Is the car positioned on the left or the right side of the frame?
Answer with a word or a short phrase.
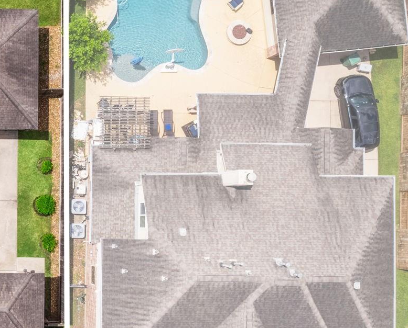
right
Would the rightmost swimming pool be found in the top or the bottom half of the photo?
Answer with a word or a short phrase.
top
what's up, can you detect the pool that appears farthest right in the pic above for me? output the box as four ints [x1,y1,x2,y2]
[106,0,213,87]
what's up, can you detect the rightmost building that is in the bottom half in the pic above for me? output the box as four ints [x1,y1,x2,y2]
[84,93,398,328]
